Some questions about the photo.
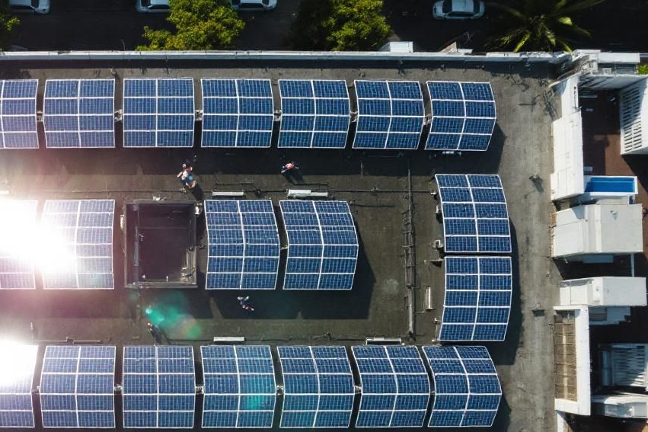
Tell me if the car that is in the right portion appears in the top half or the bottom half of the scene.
top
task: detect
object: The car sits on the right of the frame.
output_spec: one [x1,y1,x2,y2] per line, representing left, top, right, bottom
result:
[428,0,484,24]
